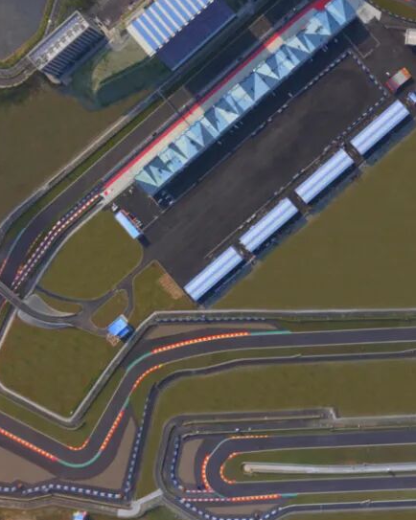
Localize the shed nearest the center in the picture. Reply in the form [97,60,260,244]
[186,246,242,302]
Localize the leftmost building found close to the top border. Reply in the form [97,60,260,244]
[28,10,112,92]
